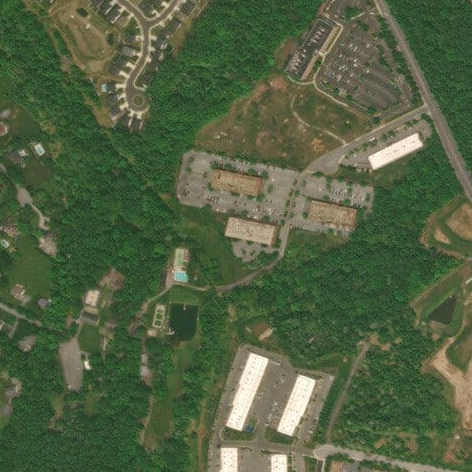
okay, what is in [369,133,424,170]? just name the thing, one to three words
building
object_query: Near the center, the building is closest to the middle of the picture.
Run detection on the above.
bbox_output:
[225,217,279,245]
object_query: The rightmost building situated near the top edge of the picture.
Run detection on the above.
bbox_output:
[285,17,340,83]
